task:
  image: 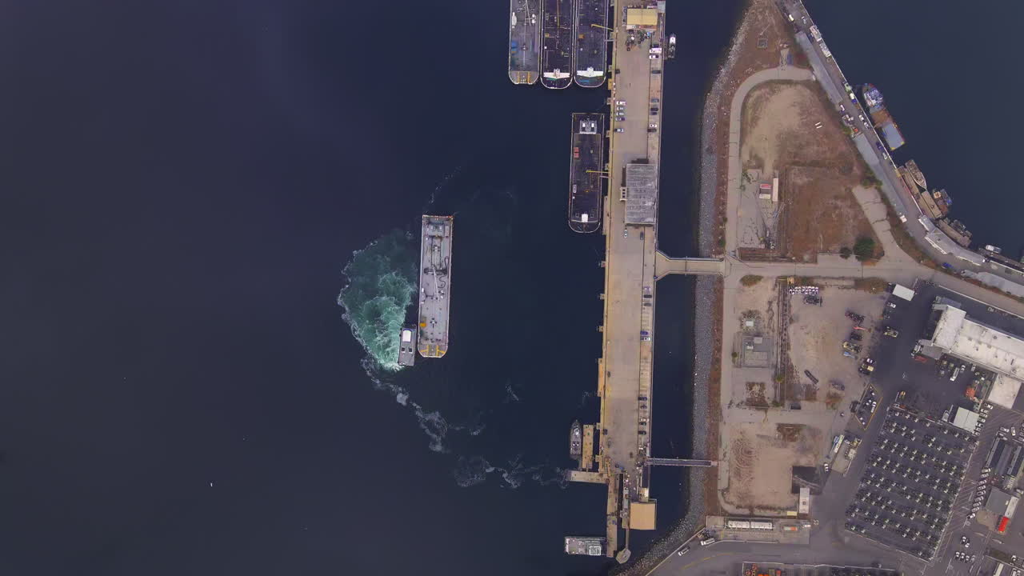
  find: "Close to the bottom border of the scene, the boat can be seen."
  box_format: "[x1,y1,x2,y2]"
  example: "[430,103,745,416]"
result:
[565,536,605,555]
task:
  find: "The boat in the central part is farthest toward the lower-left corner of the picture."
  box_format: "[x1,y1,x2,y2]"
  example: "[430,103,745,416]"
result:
[398,325,429,366]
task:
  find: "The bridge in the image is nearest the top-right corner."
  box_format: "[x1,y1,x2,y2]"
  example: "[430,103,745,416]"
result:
[656,248,725,280]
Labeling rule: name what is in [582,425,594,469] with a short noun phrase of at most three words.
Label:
pier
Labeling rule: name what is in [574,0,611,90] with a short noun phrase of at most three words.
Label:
ship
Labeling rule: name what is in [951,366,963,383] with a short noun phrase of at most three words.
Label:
vehicle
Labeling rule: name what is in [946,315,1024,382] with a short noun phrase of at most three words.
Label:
building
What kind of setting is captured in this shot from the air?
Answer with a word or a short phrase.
port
